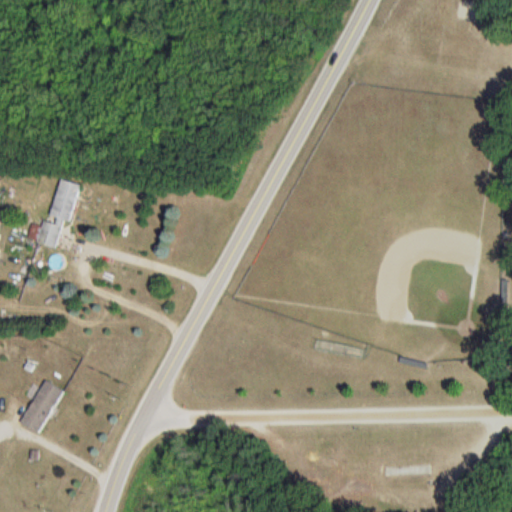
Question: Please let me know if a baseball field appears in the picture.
Yes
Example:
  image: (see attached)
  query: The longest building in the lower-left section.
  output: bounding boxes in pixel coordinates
[21,381,64,432]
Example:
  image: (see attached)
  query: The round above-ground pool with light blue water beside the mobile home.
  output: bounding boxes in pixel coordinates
[48,254,66,270]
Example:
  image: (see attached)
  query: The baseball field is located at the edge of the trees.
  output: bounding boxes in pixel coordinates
[236,83,501,362]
